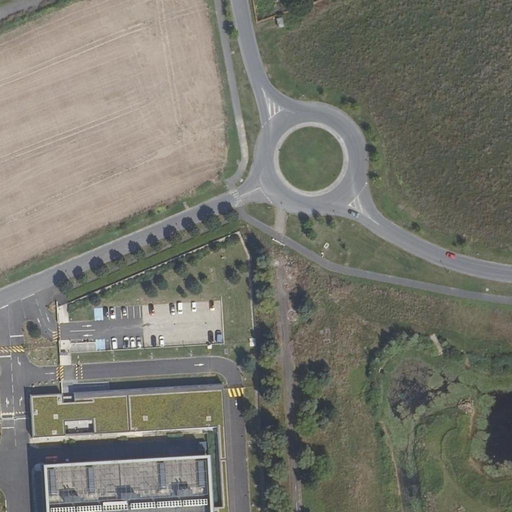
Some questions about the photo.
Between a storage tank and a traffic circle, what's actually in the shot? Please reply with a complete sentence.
Of the two, only a traffic circle appears.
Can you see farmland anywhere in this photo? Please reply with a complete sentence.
Yes, there's farmland in this view.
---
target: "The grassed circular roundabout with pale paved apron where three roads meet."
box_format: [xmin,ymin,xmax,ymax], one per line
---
[251,94,368,216]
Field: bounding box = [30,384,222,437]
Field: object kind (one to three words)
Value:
building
